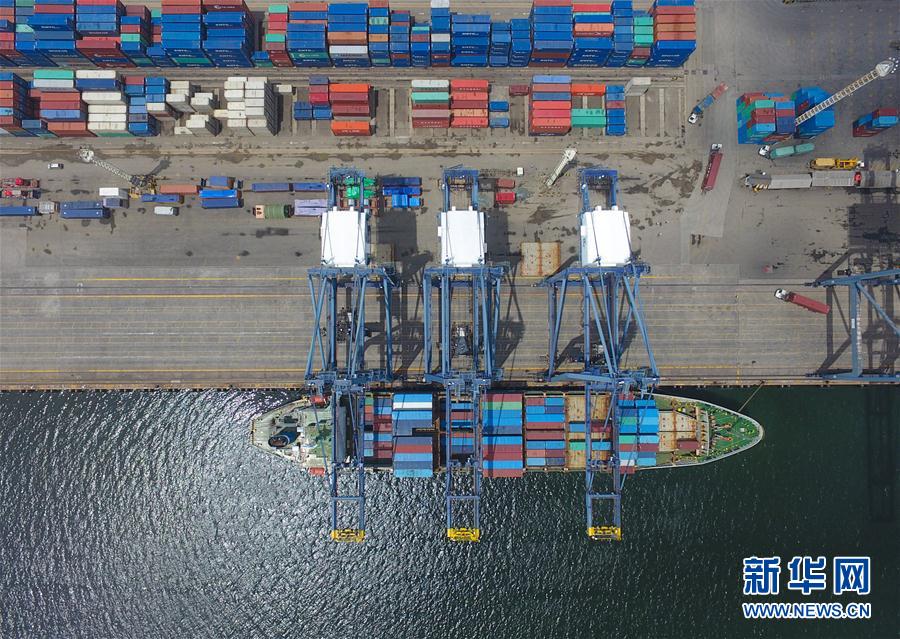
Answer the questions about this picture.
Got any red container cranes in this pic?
No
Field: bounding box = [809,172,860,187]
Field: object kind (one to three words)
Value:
vehicle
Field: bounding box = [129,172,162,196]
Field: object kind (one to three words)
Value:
work vehicle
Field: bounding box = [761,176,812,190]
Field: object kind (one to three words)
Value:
vehicle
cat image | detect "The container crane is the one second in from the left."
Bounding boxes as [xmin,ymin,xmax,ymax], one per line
[410,168,510,544]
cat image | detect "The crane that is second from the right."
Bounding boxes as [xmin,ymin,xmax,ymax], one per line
[523,166,655,543]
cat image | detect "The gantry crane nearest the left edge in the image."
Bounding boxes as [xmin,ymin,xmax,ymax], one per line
[304,169,417,545]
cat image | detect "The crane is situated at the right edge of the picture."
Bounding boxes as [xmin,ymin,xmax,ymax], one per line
[804,266,900,383]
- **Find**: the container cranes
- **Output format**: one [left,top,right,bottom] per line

[410,168,510,544]
[523,166,655,543]
[804,266,900,383]
[304,169,417,545]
